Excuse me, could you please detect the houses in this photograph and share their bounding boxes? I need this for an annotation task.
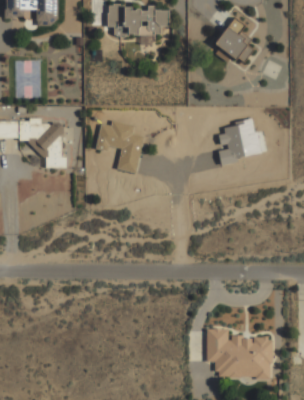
[107,4,168,45]
[94,120,142,174]
[0,118,68,168]
[218,118,266,166]
[216,18,252,62]
[206,329,274,385]
[4,0,58,30]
